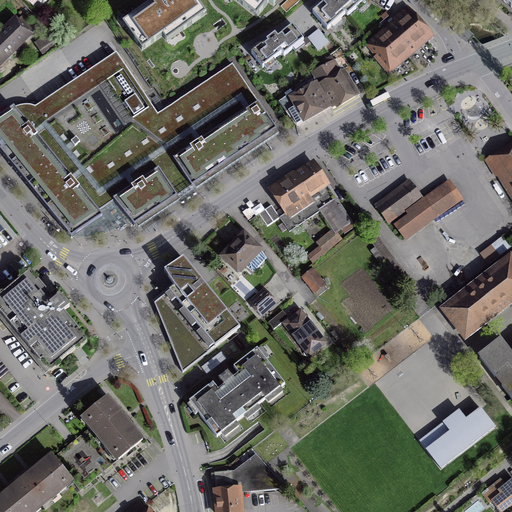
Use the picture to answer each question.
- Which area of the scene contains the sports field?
bottom right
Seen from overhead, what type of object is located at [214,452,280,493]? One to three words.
building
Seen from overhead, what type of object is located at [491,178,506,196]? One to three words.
vehicle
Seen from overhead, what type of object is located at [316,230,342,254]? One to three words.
barn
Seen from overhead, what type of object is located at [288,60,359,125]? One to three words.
house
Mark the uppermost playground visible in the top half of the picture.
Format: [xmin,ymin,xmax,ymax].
[456,89,500,138]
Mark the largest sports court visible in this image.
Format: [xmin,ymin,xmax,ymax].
[376,306,486,438]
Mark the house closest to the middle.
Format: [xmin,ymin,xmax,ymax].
[218,230,264,277]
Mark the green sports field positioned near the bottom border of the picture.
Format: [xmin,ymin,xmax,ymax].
[290,384,512,512]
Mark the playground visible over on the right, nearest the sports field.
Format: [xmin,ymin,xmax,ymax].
[357,319,432,386]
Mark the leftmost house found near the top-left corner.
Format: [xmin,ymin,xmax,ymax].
[0,15,33,70]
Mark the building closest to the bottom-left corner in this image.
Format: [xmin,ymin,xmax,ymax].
[0,452,74,512]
